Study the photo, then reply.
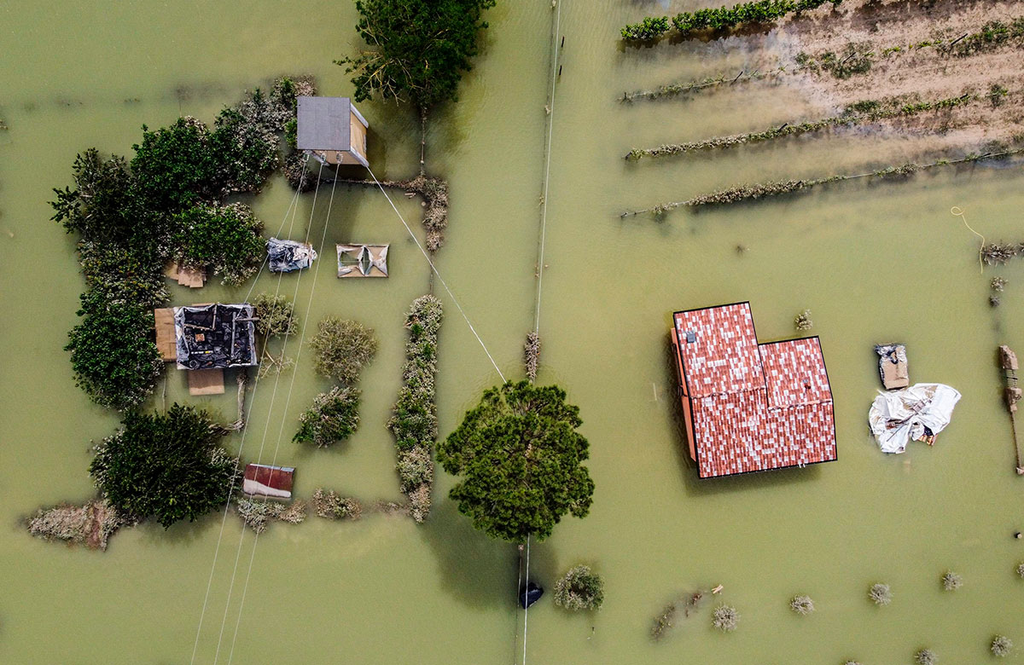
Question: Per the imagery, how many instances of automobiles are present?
0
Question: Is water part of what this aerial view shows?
Yes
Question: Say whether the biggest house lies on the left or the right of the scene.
right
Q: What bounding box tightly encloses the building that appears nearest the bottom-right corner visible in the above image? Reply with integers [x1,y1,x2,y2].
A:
[670,301,838,480]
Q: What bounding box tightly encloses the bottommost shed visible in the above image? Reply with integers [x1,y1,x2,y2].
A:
[243,463,297,500]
